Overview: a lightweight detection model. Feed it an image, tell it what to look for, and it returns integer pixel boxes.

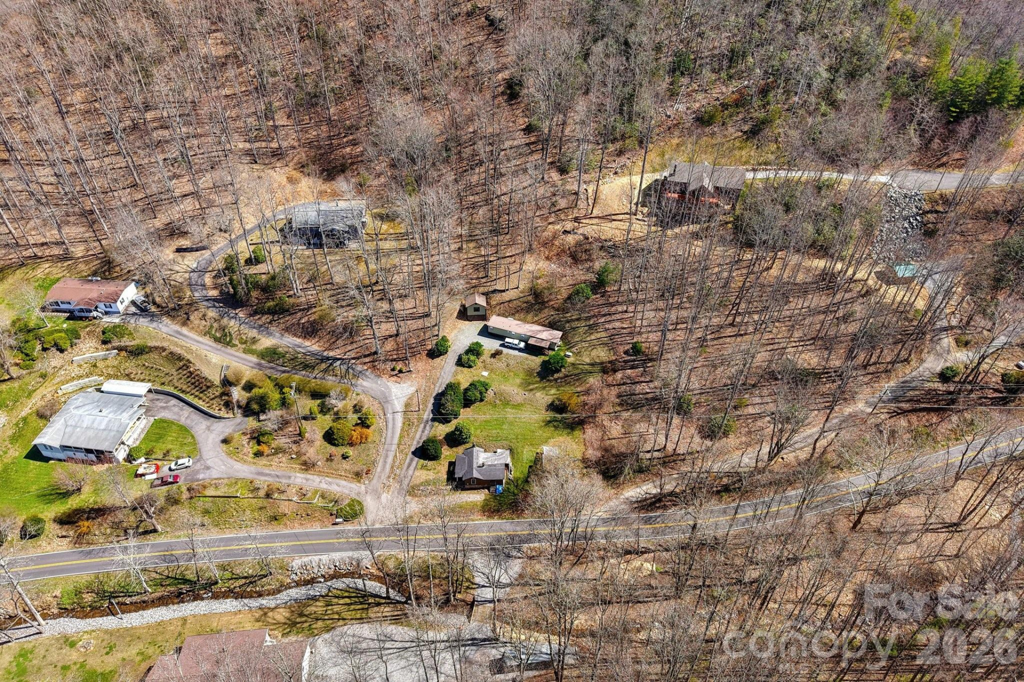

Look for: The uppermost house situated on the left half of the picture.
[288,202,368,253]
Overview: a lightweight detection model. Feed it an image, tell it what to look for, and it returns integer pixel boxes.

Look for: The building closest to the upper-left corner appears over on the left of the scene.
[43,279,141,316]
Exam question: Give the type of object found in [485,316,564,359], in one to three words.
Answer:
house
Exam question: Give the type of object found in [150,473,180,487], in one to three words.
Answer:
vehicle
